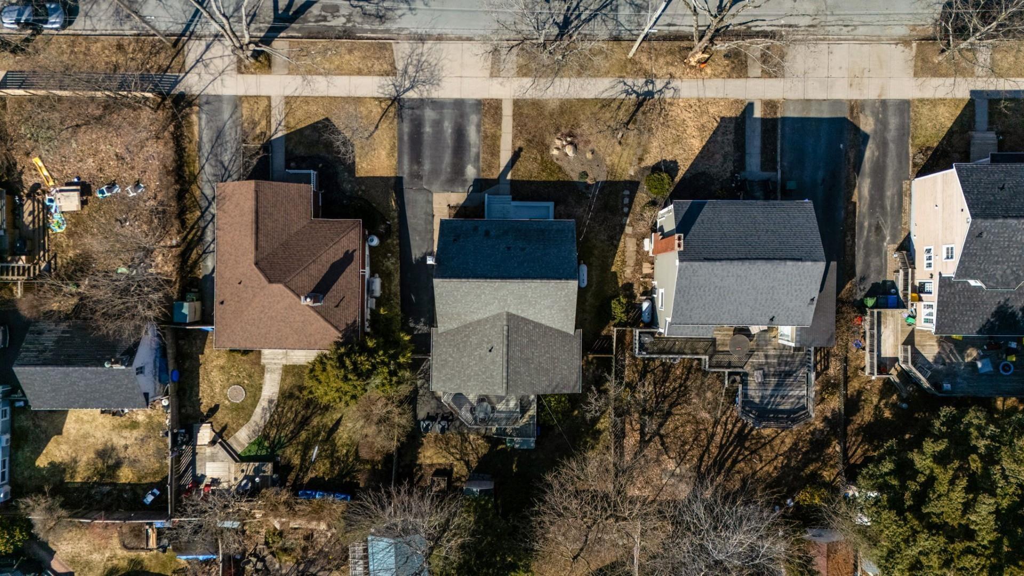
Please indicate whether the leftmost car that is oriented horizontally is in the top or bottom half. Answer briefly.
top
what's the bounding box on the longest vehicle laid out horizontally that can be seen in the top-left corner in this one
[2,1,69,33]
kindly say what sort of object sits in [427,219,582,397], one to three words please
house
